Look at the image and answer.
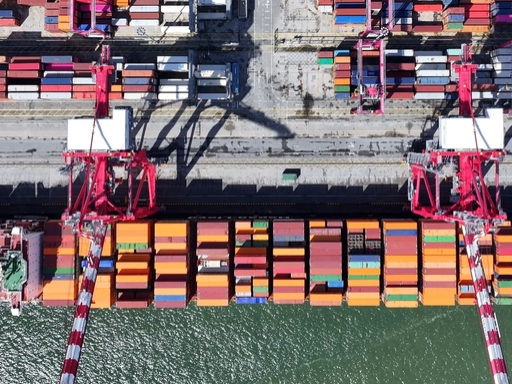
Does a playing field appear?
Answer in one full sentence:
No, no playing field can be seen from above.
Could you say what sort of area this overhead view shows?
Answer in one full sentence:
This image shows a port.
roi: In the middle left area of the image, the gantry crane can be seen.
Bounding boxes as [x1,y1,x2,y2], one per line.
[57,47,167,384]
